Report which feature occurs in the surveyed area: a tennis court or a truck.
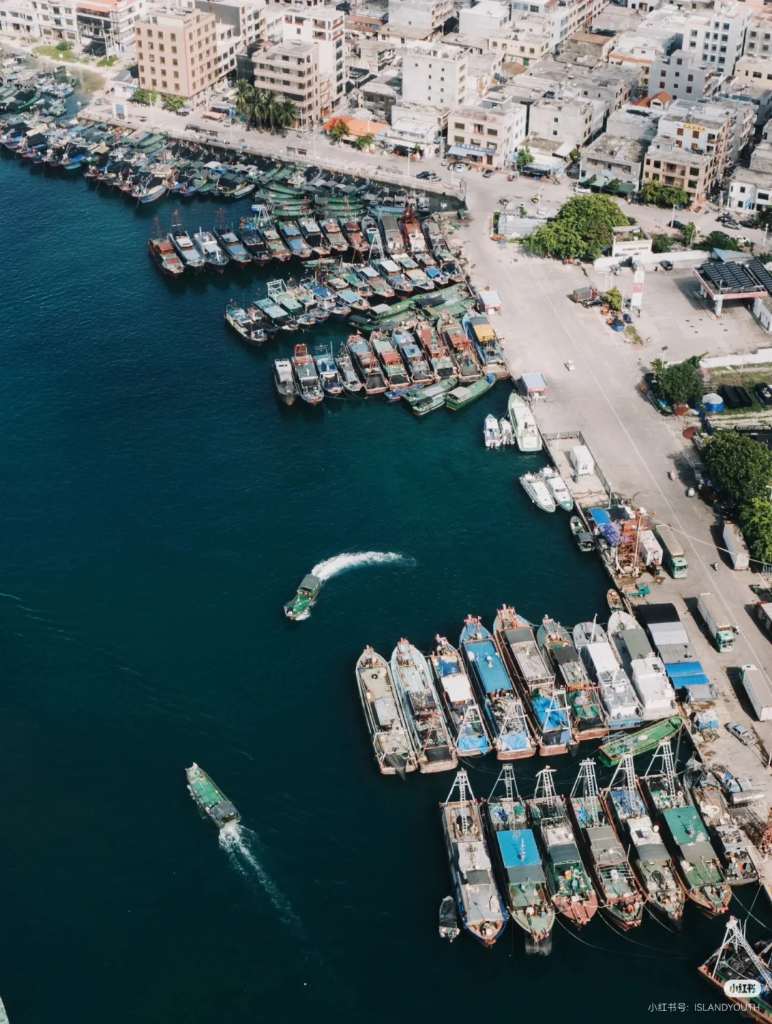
truck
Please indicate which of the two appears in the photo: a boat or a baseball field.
boat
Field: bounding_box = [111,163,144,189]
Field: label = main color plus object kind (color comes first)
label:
gray boat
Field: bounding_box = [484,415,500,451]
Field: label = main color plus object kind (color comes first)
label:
white boat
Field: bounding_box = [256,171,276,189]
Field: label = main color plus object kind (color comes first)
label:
gray boat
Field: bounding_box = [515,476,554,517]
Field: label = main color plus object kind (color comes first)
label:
white boat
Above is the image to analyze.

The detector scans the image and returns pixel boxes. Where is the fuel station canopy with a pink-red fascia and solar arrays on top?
[697,246,772,317]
